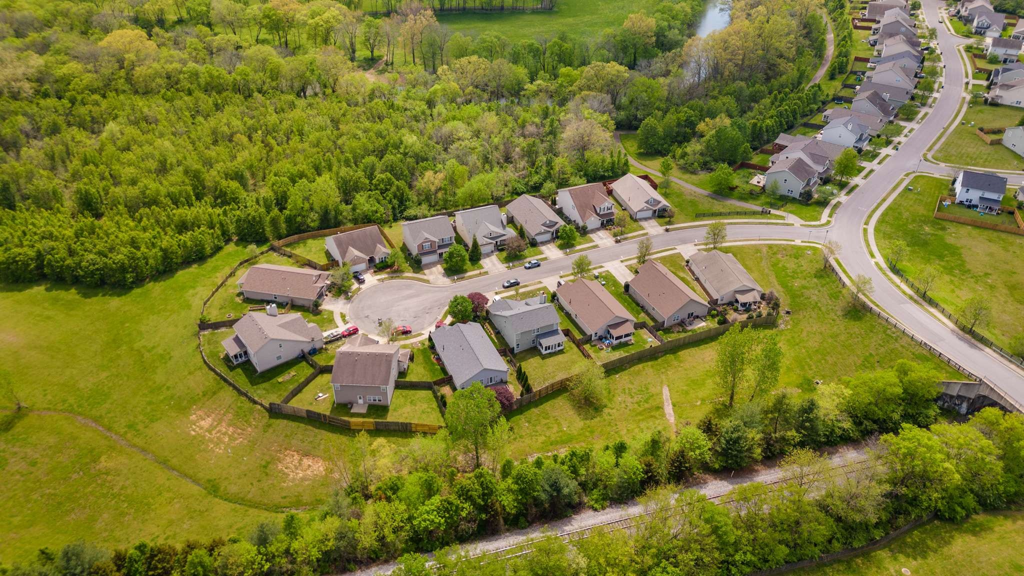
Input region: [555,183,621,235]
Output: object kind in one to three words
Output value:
house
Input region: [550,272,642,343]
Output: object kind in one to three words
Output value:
house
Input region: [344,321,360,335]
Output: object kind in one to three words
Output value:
car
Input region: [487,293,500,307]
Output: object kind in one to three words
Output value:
vehicle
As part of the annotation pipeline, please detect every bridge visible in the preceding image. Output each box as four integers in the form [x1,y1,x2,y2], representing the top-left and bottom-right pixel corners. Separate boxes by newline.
[935,362,1024,416]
